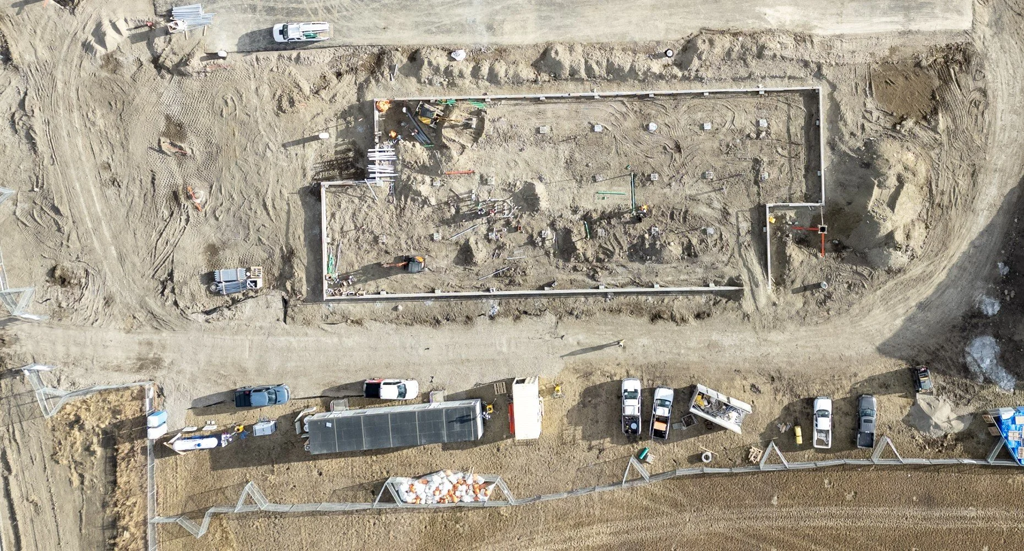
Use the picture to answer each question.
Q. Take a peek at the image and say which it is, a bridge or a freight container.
freight container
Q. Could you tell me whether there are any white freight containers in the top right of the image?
No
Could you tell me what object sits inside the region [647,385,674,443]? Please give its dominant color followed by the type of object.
white truck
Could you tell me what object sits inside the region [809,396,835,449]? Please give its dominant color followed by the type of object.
white truck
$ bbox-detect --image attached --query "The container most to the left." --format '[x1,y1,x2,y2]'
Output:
[514,378,539,439]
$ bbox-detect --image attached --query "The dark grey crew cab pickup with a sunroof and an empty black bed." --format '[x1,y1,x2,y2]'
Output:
[852,392,879,448]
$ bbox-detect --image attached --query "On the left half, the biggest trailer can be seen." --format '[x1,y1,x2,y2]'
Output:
[308,397,481,455]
